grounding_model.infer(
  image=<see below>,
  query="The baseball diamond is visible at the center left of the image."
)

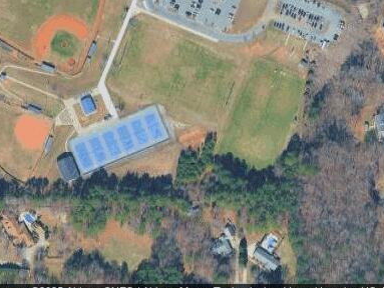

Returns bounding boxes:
[0,99,55,183]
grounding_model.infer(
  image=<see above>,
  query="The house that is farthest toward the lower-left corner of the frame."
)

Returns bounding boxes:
[0,213,33,249]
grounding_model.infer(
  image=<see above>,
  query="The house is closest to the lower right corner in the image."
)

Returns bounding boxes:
[253,247,282,272]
